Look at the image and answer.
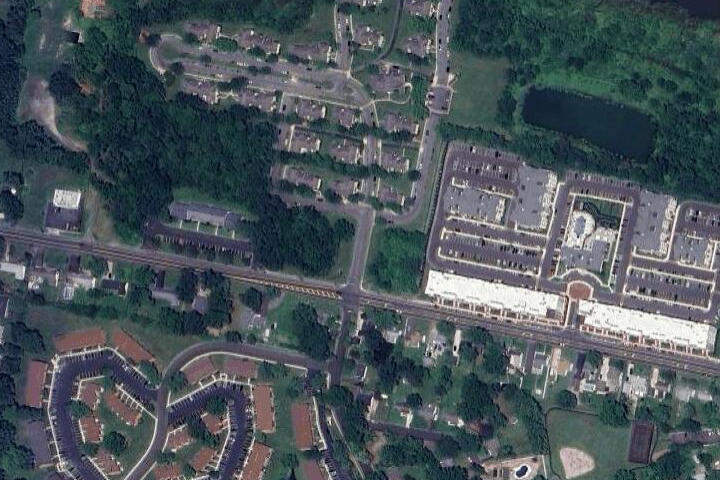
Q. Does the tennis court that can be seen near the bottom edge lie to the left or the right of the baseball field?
to its right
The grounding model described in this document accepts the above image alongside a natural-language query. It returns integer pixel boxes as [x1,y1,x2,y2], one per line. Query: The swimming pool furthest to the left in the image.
[482,456,541,480]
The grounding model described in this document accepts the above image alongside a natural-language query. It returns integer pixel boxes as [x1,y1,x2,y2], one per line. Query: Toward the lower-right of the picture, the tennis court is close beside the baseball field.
[627,420,656,464]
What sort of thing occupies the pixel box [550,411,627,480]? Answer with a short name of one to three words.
baseball field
